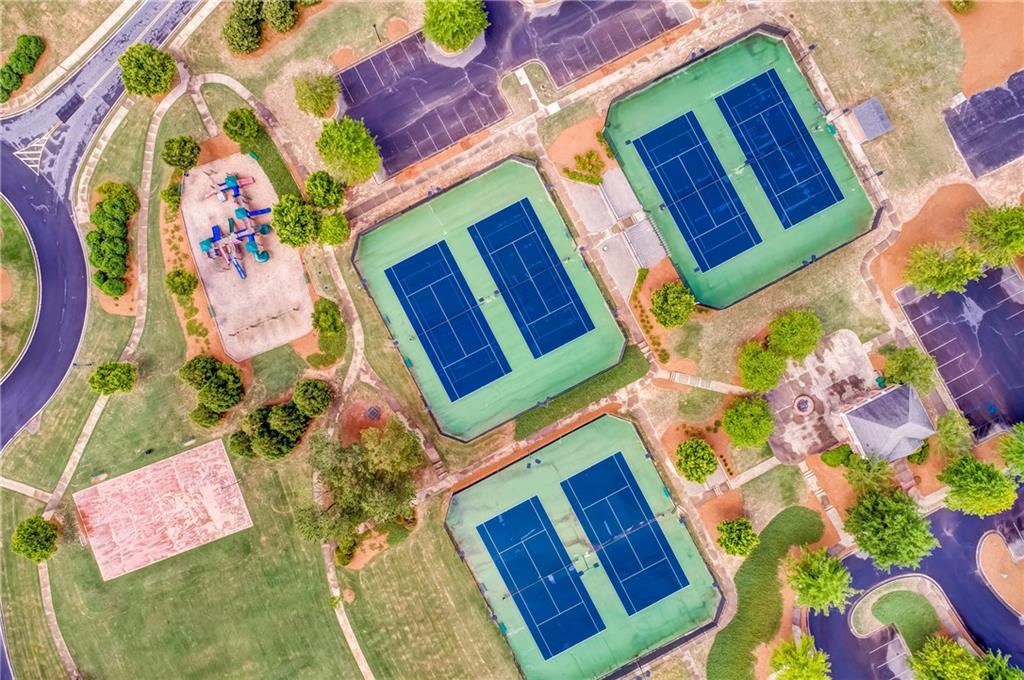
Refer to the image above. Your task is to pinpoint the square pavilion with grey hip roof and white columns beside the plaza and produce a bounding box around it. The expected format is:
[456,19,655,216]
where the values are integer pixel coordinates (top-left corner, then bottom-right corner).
[834,384,935,461]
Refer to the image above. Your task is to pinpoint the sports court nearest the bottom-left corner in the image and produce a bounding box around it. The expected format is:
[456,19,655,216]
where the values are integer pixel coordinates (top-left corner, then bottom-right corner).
[71,439,254,582]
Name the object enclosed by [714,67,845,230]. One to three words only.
tennis court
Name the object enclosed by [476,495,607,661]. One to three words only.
tennis court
